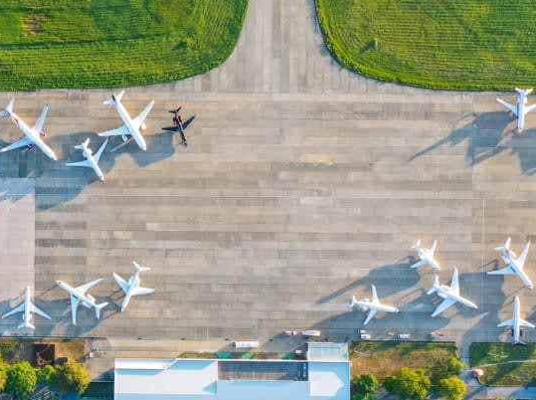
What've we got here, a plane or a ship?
plane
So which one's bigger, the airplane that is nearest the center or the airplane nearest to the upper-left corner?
the airplane nearest to the upper-left corner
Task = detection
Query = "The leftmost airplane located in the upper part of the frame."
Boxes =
[1,101,58,160]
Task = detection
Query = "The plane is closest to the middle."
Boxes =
[163,108,197,145]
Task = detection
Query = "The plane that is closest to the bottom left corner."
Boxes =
[3,287,52,327]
